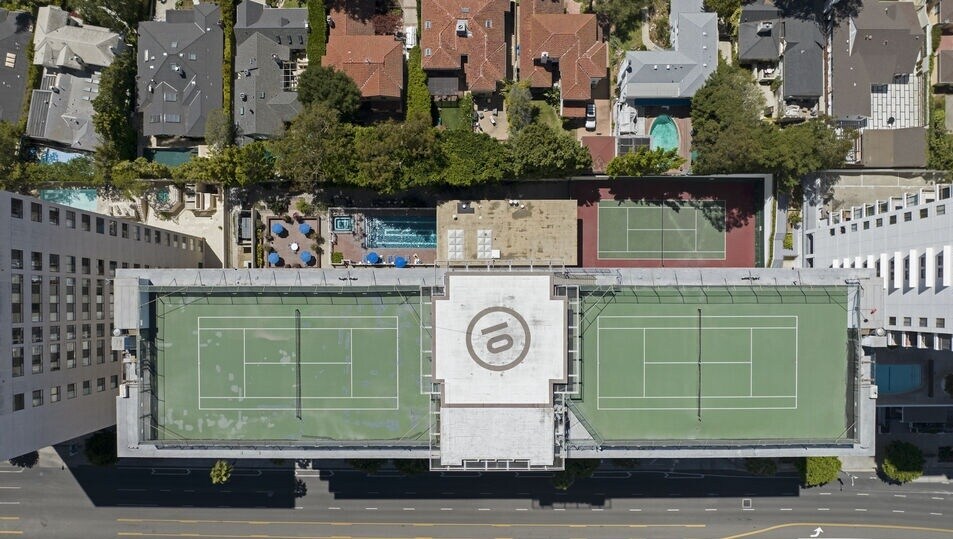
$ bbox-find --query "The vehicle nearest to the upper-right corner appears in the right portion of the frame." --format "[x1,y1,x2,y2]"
[584,104,597,131]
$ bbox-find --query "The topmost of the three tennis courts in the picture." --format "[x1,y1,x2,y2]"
[577,183,756,267]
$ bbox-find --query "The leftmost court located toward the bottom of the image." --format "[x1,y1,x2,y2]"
[148,289,433,441]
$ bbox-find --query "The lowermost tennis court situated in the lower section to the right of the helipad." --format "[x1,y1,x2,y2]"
[567,286,848,441]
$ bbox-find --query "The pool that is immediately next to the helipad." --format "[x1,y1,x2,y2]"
[364,217,436,249]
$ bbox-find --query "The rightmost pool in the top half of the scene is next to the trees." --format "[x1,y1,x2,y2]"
[649,112,681,152]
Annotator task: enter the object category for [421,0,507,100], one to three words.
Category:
house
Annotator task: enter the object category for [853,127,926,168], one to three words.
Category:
building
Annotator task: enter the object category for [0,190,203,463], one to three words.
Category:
building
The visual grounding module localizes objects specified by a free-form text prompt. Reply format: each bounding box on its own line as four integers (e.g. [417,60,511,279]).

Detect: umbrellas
[300,223,311,235]
[301,250,312,263]
[367,251,380,264]
[273,223,284,235]
[394,256,407,267]
[268,252,280,264]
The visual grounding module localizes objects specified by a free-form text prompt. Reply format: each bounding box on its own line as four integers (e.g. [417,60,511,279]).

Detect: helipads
[432,273,568,408]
